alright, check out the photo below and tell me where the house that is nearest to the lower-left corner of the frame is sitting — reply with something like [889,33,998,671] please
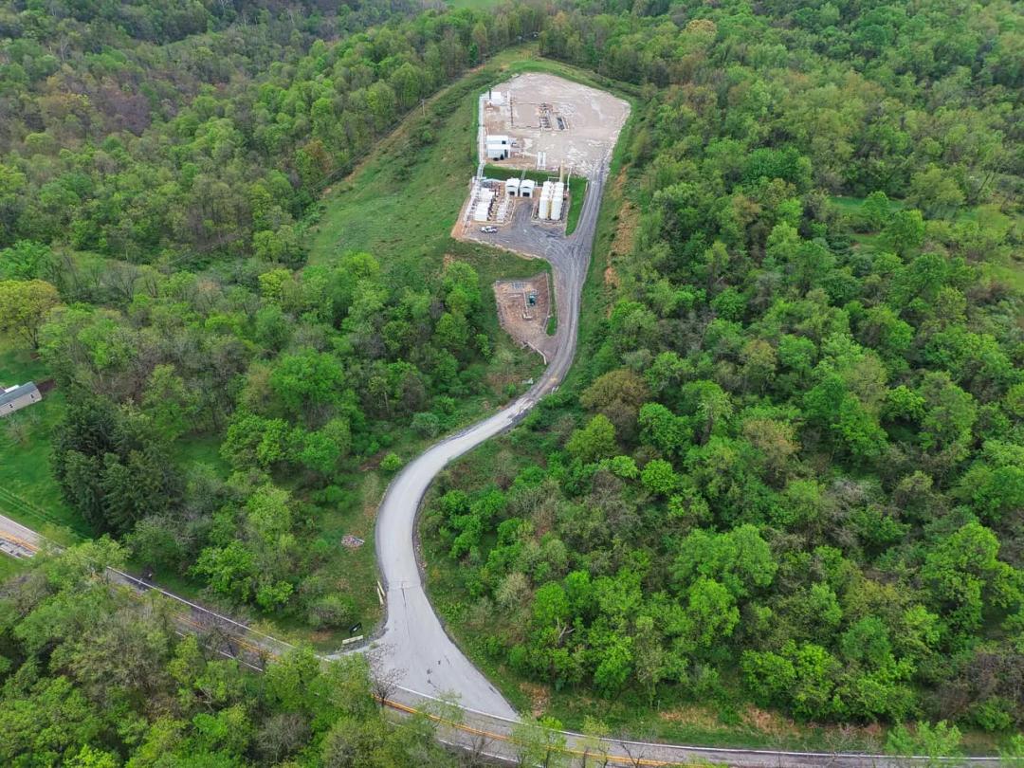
[0,382,42,416]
